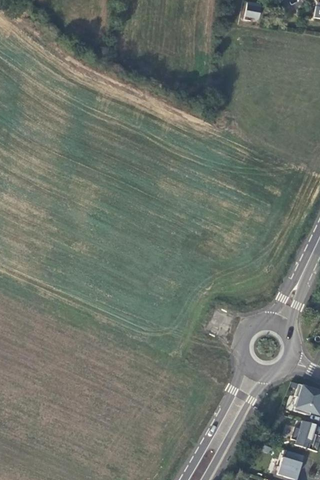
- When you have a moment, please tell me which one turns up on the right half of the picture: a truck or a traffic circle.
traffic circle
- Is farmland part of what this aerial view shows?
Yes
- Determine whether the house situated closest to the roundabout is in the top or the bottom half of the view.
bottom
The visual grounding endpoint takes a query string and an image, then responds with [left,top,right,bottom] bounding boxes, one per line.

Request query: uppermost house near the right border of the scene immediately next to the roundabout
[288,382,320,417]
